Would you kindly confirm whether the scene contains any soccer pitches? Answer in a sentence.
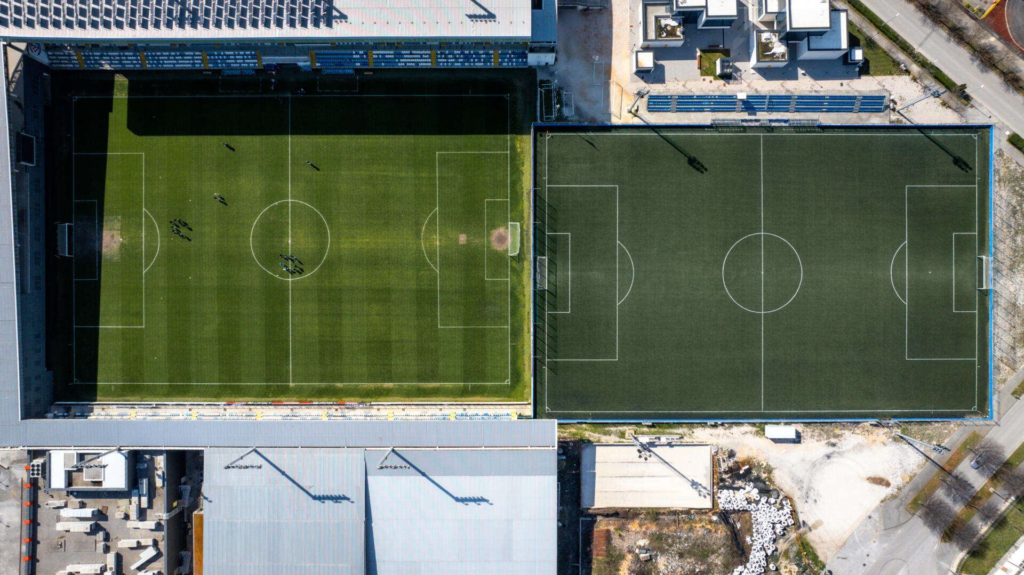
Yes, I can see a soccer pitch in this picture.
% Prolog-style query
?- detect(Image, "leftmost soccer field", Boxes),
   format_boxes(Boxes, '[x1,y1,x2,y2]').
[45,65,532,419]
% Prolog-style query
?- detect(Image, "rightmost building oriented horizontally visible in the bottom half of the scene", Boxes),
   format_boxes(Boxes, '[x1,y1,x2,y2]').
[762,424,795,438]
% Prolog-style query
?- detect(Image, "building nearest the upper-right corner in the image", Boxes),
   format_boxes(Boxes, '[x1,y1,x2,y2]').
[750,0,864,73]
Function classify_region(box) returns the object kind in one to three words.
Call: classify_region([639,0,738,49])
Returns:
building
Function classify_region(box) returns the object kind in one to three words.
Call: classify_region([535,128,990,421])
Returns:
soccer field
